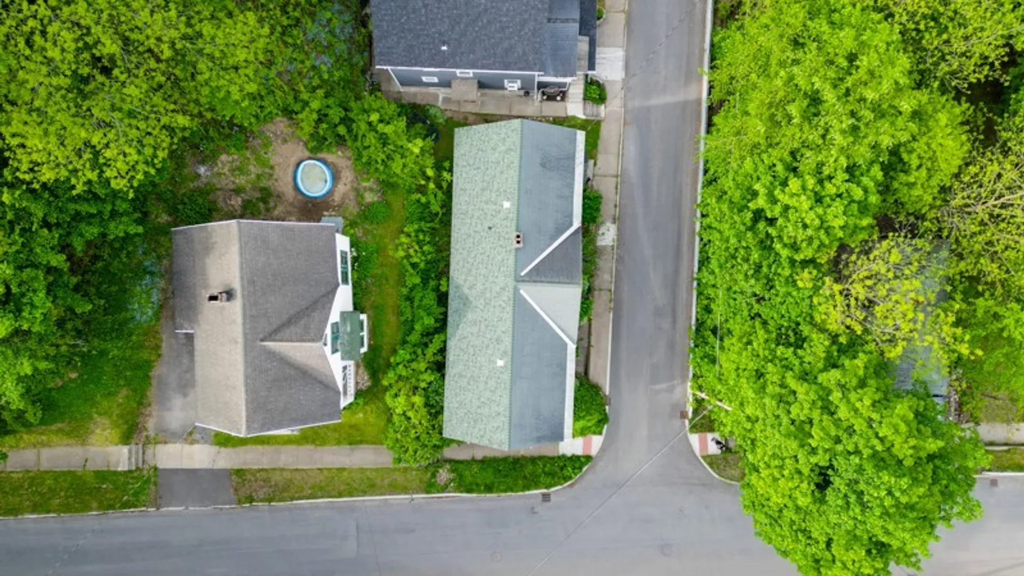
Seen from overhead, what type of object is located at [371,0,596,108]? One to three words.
house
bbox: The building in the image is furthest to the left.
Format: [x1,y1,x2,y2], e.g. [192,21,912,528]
[171,216,367,437]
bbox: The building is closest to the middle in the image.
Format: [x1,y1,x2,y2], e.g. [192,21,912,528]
[443,119,586,450]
